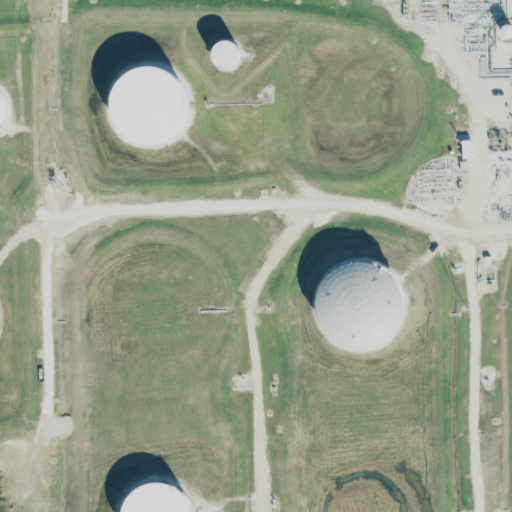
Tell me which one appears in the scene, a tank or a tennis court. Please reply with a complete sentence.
The image shows a tank.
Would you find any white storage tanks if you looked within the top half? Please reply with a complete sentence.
Yes, a white storage tank appears within the top half.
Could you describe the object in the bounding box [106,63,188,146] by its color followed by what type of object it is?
white storage tank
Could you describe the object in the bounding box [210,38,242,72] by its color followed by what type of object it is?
white storage tank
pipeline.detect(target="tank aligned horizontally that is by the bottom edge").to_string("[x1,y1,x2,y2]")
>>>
[119,477,193,512]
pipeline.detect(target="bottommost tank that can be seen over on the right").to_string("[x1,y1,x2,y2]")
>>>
[316,256,406,350]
